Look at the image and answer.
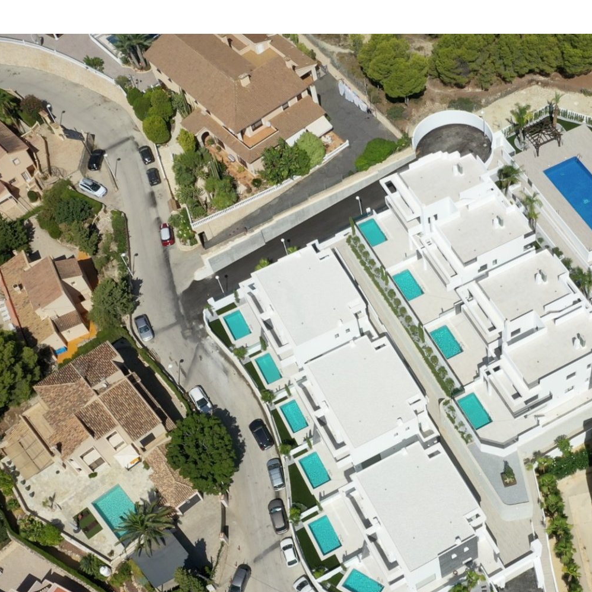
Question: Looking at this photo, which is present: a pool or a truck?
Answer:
pool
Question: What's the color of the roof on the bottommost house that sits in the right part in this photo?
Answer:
white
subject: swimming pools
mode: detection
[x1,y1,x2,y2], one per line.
[339,568,387,592]
[220,307,254,343]
[392,268,427,303]
[277,397,312,436]
[542,155,592,231]
[305,512,345,559]
[455,389,495,433]
[356,216,391,249]
[87,483,146,544]
[427,323,466,362]
[296,450,334,492]
[251,351,285,387]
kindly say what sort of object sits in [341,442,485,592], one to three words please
house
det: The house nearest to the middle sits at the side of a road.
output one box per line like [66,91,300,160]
[238,240,369,373]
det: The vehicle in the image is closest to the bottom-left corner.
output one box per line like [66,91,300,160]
[227,563,253,592]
